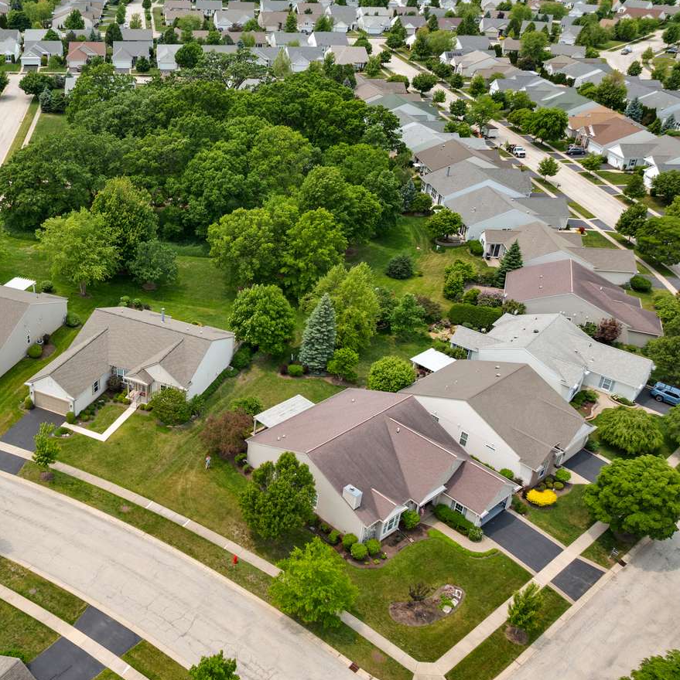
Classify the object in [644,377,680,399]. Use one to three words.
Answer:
car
